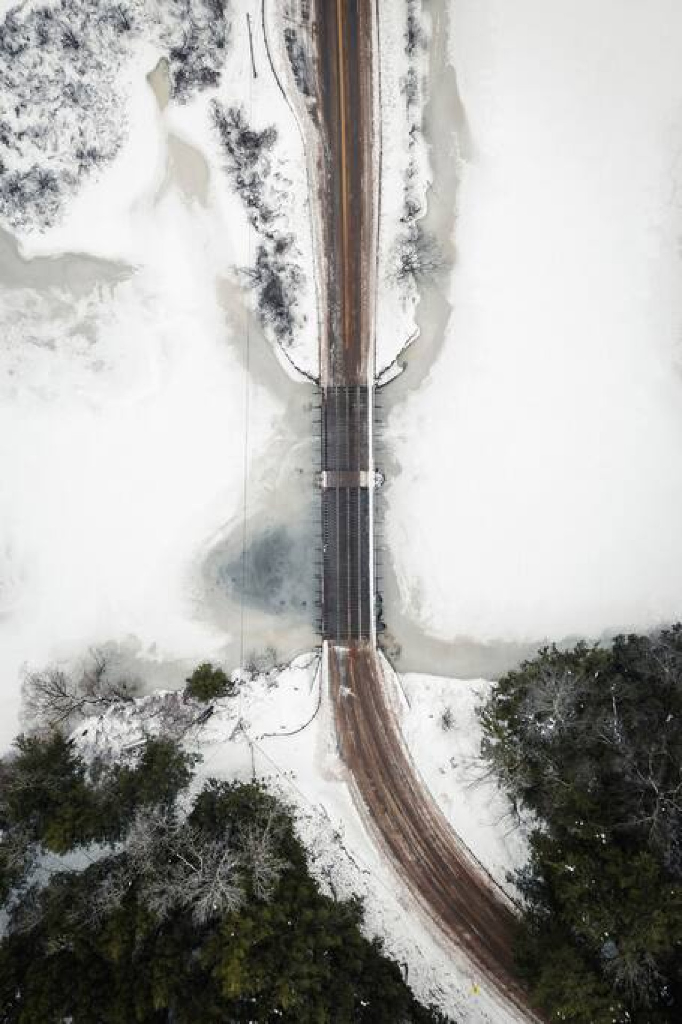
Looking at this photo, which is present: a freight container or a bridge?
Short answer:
bridge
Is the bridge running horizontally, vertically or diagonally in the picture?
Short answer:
vertically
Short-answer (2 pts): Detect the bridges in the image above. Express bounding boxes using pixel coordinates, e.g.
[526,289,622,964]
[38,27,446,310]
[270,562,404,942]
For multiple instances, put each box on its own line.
[312,382,384,646]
